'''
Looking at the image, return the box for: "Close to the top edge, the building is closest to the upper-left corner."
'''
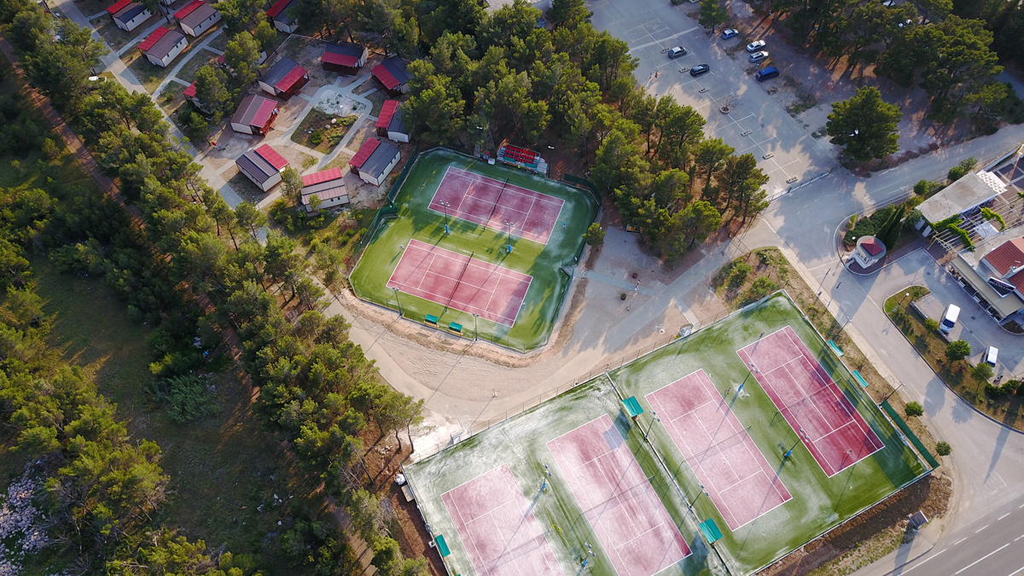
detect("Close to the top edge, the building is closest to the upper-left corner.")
[106,0,156,28]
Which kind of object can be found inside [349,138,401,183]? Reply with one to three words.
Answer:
building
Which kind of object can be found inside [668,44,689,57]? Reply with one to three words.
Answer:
vehicle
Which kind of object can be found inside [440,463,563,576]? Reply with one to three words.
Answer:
tennis court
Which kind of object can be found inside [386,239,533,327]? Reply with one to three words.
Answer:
tennis court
